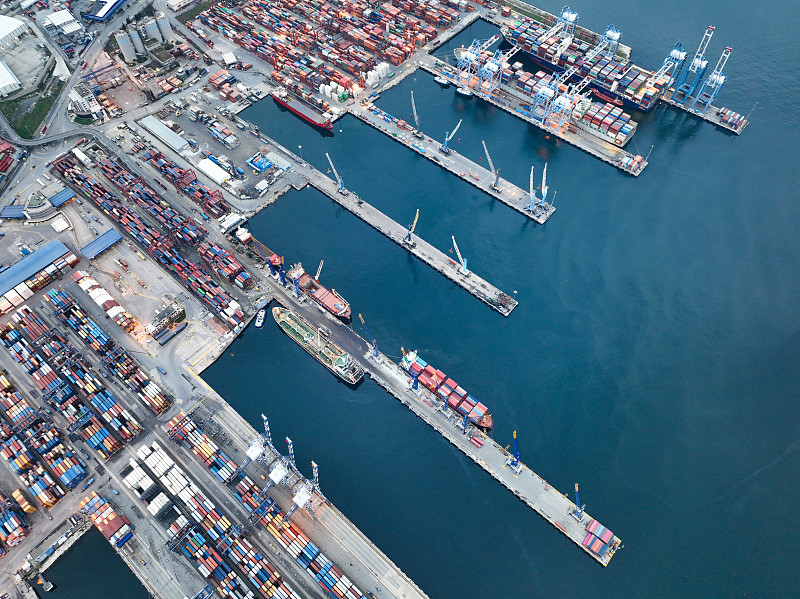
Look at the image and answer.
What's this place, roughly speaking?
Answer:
port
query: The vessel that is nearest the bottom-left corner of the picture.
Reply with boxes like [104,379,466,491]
[252,312,266,329]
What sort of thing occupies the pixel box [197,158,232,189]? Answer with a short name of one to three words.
building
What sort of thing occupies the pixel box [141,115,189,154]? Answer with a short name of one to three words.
building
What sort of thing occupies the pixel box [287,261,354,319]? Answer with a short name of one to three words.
ship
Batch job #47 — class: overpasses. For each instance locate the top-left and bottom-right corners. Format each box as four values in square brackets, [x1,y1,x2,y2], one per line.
[0,106,131,162]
